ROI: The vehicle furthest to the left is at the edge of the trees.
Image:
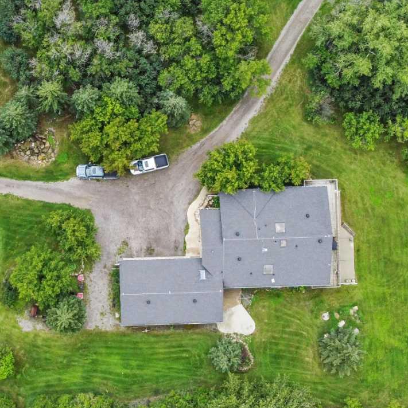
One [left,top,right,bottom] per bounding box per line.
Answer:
[76,164,119,180]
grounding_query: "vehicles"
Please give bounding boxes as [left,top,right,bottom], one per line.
[76,164,119,180]
[130,153,170,174]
